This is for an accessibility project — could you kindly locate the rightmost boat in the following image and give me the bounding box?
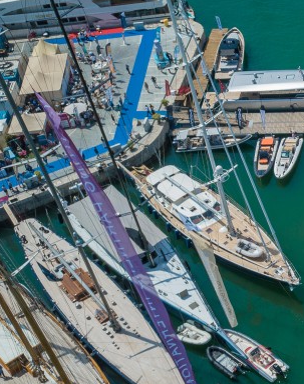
[274,131,304,178]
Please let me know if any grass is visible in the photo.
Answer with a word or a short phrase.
No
